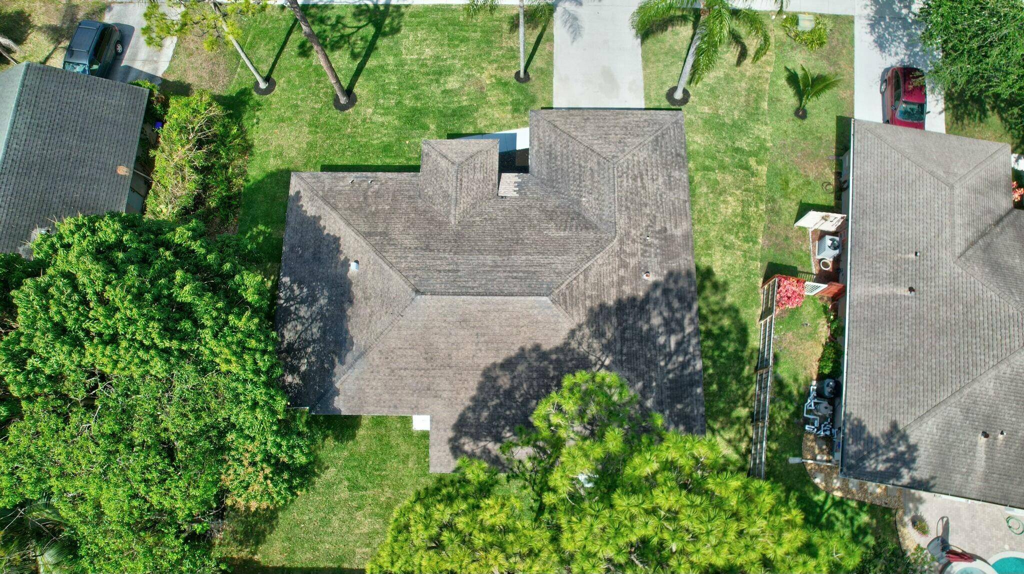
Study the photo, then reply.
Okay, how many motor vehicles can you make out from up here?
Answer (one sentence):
The count of motor vehicles comes to 2.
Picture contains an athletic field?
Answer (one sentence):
No, there isn't any athletic field down there.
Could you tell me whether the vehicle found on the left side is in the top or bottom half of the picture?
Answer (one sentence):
You can find the vehicle found on the left side in the top half.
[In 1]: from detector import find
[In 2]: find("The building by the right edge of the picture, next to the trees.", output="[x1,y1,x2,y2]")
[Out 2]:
[825,118,1024,512]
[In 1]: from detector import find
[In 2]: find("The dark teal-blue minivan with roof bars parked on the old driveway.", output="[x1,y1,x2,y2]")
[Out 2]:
[65,15,121,78]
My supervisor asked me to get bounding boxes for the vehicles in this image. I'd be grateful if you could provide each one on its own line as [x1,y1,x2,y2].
[65,15,121,78]
[880,64,931,129]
